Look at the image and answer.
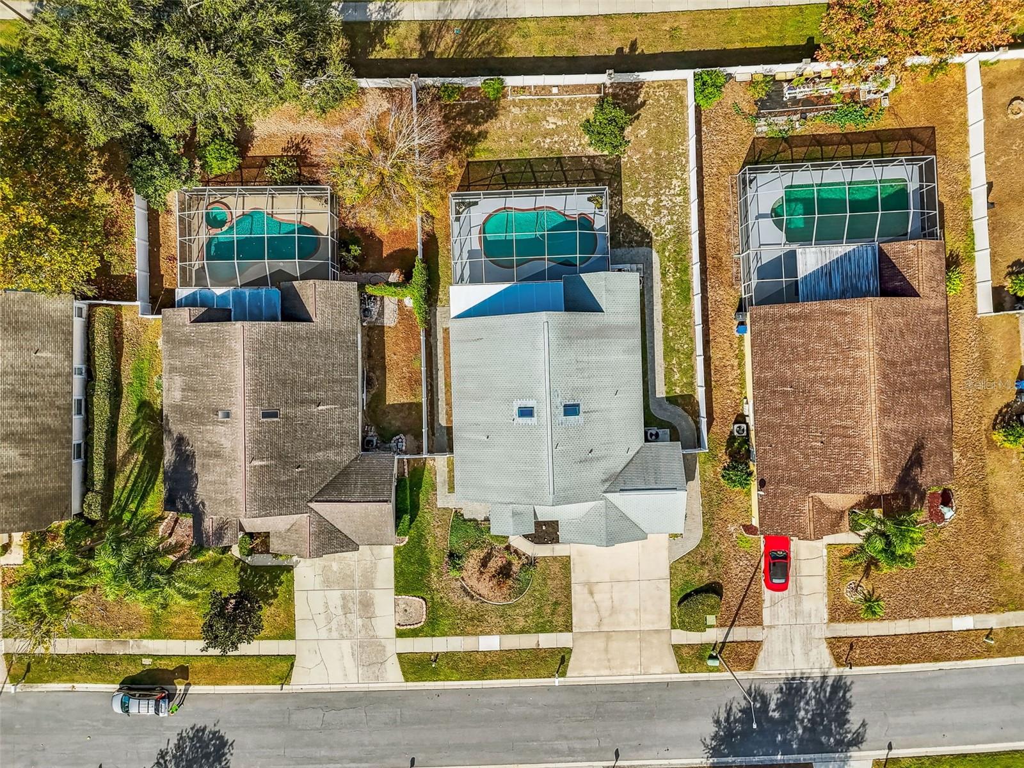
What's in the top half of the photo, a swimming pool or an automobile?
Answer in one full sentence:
What appears in the top half of the photo is a swimming pool.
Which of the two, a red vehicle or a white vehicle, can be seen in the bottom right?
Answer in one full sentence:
Looking in the bottom right, you will find a red vehicle.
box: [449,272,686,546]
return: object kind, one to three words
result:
house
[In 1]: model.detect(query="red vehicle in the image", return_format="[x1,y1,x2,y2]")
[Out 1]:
[762,538,791,594]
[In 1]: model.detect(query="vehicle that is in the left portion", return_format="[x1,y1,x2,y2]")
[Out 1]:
[115,687,171,717]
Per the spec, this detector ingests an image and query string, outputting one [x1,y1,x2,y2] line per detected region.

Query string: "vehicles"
[115,687,171,717]
[762,538,791,594]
